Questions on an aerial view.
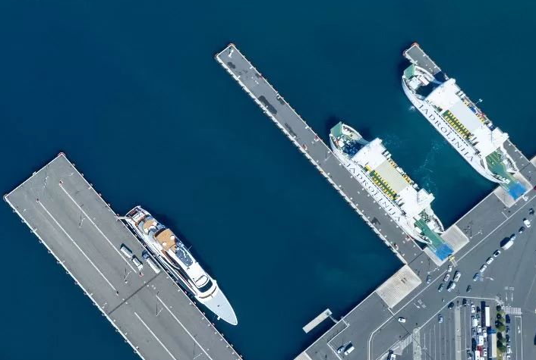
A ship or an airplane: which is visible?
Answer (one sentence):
It is a ship that can be seen here.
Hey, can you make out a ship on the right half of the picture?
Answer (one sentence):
Yes, a ship can be seen on the right half of the picture.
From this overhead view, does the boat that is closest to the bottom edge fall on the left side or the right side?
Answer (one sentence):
The boat that is closest to the bottom edge sits on the left side.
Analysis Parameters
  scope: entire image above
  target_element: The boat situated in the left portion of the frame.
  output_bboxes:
[125,204,234,323]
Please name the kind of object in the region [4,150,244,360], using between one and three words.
pier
